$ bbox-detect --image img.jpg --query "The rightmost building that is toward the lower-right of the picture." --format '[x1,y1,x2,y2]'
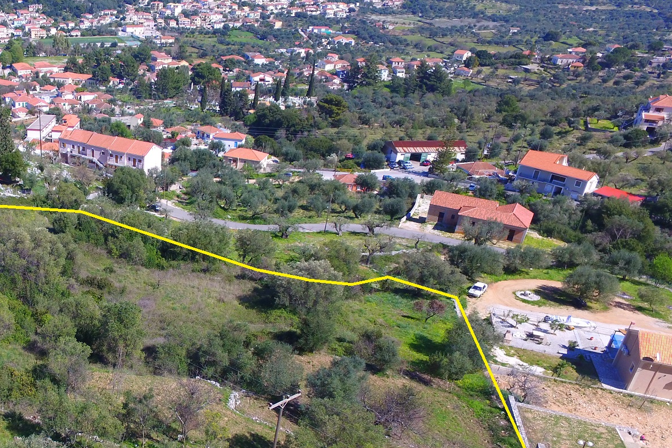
[622,320,672,397]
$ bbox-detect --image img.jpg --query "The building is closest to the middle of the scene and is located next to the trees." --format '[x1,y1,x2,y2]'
[338,165,382,192]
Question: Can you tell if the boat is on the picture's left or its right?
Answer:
right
